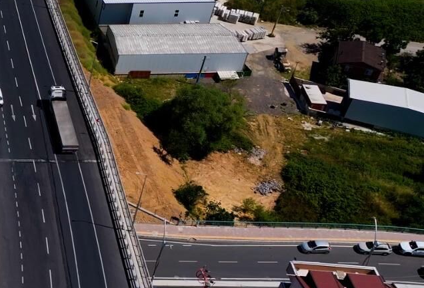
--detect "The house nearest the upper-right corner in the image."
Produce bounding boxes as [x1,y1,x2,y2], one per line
[330,37,386,83]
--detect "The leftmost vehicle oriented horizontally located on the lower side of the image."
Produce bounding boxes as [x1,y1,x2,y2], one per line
[301,239,335,254]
